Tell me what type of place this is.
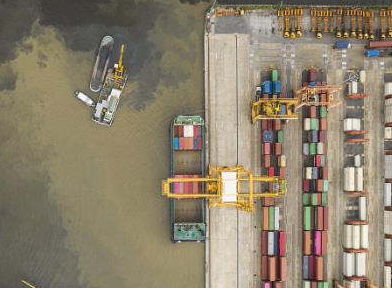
port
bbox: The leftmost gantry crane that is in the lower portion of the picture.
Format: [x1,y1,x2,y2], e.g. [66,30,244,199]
[157,161,288,213]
